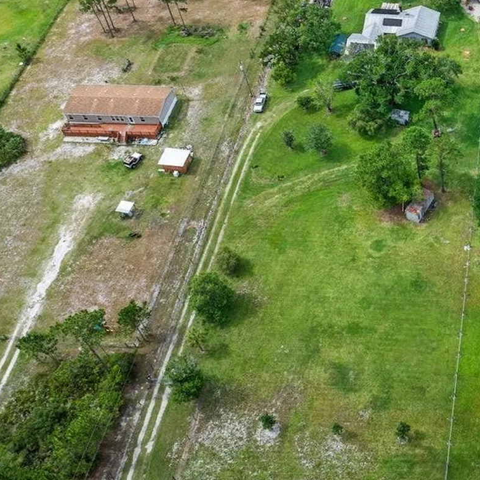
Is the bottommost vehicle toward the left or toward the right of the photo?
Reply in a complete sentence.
The bottommost vehicle is on the left side of the image.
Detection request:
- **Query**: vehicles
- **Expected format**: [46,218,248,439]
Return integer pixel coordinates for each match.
[250,92,269,114]
[117,151,148,172]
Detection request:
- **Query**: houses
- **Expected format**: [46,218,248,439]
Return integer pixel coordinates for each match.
[60,85,179,149]
[345,5,442,59]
